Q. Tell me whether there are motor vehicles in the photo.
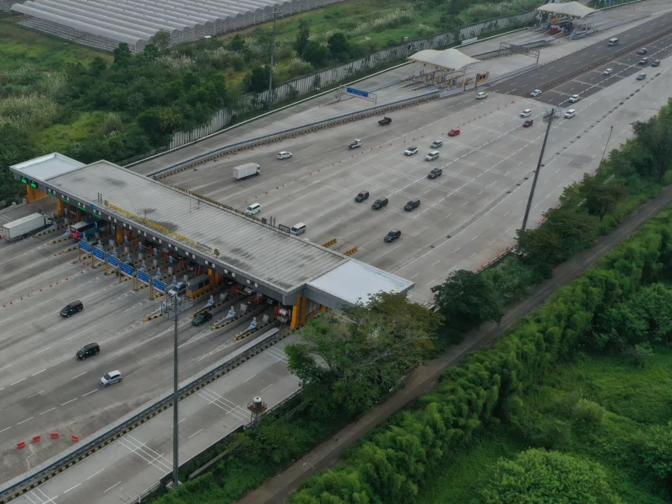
Yes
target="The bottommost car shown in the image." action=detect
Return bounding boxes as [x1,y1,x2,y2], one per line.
[99,369,123,386]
